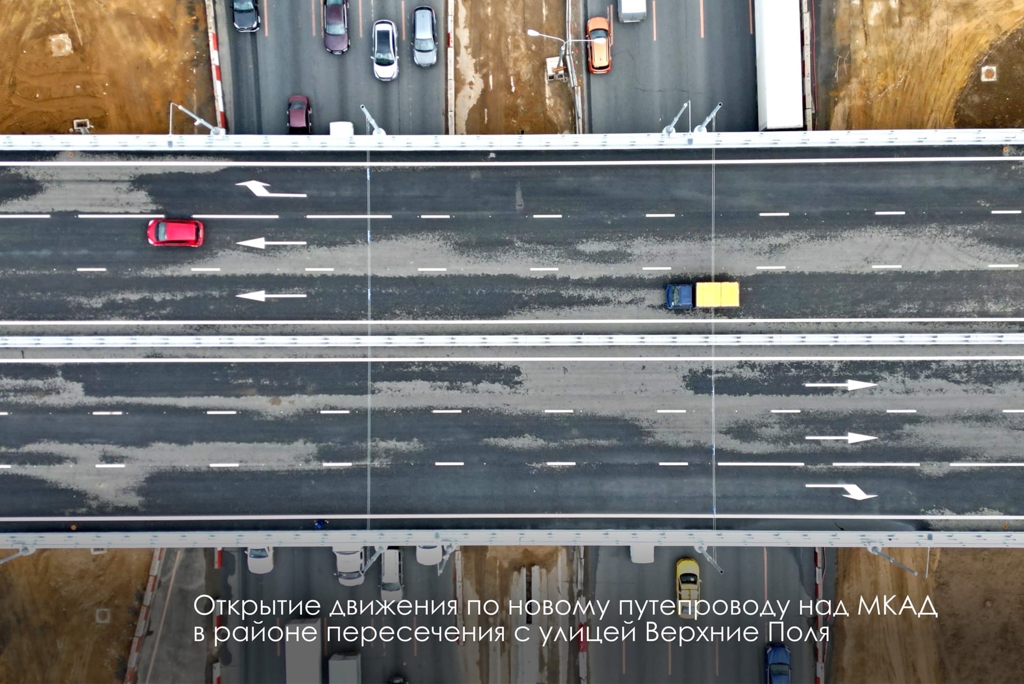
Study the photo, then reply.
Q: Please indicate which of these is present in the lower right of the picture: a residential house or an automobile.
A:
automobile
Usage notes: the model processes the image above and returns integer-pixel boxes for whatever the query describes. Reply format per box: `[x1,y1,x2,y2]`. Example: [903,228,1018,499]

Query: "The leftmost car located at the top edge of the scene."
[228,0,260,34]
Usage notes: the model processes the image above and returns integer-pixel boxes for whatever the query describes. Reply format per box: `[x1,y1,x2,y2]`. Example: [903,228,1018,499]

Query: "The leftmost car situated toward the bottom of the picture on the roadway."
[243,548,274,574]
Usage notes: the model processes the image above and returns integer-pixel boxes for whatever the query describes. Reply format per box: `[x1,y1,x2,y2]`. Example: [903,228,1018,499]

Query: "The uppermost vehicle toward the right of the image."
[616,0,646,25]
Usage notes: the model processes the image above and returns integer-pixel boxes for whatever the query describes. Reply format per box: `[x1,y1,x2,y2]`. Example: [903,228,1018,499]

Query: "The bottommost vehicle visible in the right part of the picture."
[765,643,795,684]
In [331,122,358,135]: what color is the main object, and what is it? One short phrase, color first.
white vehicle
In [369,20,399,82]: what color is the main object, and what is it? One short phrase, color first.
white car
